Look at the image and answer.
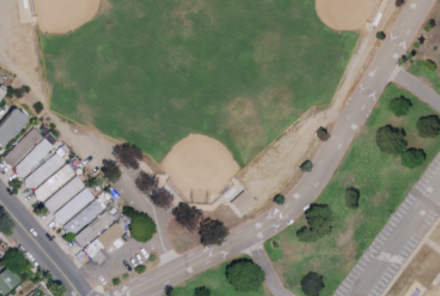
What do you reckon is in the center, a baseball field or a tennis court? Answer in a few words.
baseball field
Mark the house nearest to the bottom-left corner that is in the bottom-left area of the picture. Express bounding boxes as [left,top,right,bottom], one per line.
[0,268,20,296]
